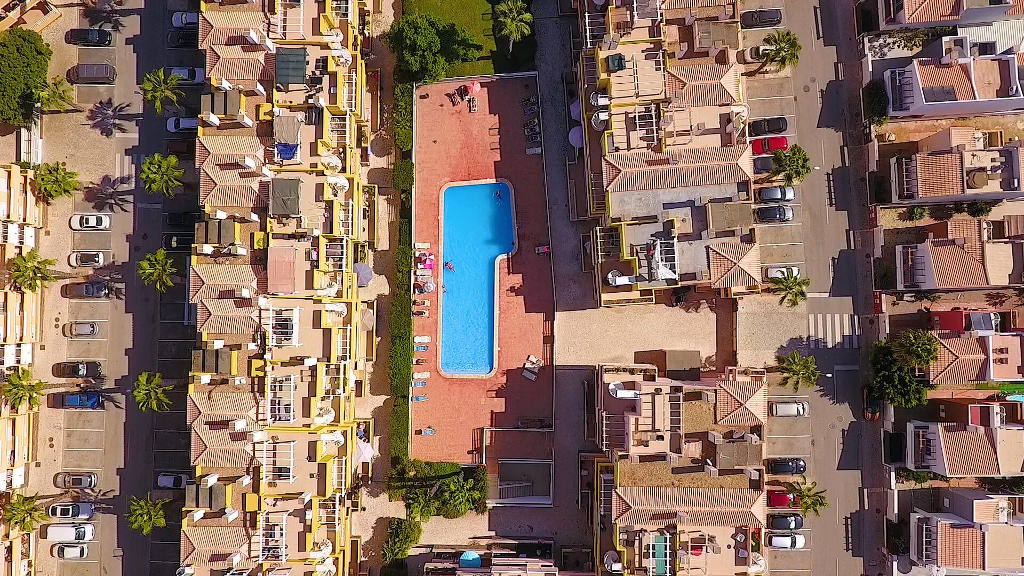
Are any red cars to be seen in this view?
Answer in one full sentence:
Yes, the photo shows a red car.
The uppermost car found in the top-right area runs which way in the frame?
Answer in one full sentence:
Seen from above, the uppermost car found in the top-right area lies from left to right.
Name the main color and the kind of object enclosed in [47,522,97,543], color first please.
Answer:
white vehicle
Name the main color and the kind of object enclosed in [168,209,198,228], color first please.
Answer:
black car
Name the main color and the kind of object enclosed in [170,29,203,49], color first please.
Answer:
black car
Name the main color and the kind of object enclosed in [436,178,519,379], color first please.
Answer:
blue swimming pool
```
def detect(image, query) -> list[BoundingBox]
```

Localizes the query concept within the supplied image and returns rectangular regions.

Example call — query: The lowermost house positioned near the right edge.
[896,485,1024,576]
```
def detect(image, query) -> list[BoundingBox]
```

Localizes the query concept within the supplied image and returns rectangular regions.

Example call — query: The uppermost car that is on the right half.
[740,8,782,29]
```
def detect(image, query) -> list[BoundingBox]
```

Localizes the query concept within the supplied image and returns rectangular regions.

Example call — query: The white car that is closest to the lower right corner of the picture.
[766,531,804,552]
